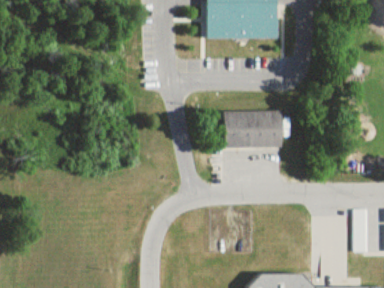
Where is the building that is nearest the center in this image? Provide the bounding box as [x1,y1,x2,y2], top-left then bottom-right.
[224,111,282,148]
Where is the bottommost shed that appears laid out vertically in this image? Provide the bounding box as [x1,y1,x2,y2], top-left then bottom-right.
[352,209,368,252]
